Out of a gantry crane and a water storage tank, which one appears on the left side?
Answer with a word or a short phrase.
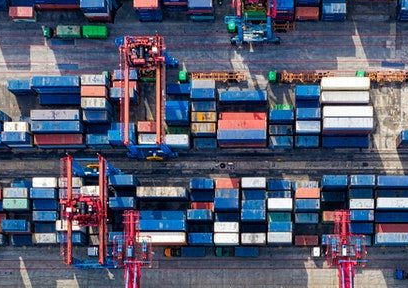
gantry crane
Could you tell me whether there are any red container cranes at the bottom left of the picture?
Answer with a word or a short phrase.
Yes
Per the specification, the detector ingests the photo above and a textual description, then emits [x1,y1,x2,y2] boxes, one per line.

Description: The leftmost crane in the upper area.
[113,36,178,161]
